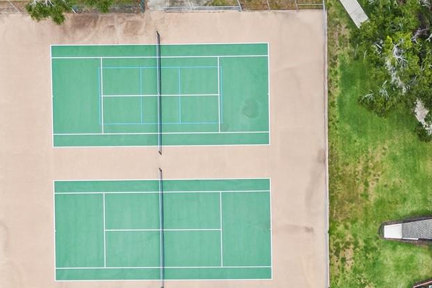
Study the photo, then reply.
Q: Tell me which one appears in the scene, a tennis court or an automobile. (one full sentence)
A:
There is a tennis court in the scene.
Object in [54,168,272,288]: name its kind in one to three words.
tennis court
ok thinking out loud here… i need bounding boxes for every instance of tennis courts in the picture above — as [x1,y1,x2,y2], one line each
[50,32,270,154]
[54,168,272,288]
